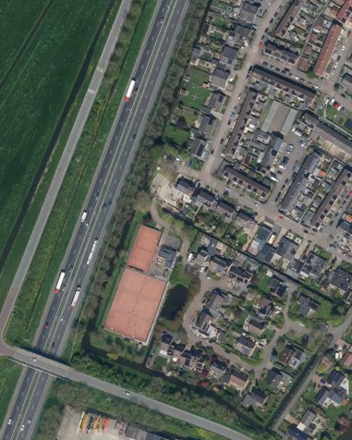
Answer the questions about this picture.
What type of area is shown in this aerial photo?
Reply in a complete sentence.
This image shows a residential area.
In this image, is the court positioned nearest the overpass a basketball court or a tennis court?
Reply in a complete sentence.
I'd identify the court positioned nearest the overpass as a tennis court.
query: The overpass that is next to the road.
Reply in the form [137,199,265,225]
[21,349,88,385]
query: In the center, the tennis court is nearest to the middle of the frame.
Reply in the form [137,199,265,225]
[126,224,162,273]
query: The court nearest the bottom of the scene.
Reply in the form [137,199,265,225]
[104,269,167,344]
